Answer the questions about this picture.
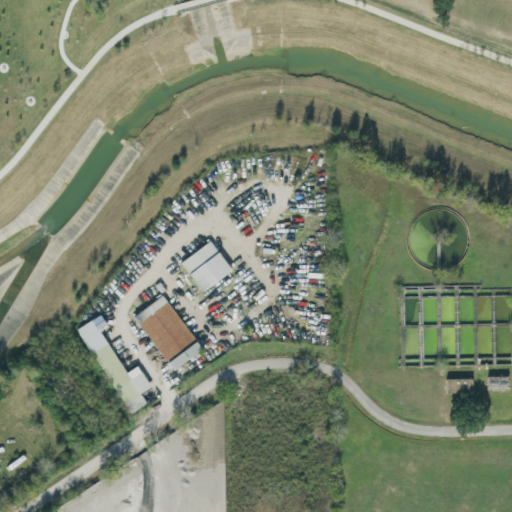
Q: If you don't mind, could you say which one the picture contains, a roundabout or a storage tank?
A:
storage tank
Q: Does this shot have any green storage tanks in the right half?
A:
Yes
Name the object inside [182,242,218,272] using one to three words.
building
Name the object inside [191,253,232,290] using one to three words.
building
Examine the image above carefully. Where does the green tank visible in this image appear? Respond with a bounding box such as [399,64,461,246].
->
[408,208,470,270]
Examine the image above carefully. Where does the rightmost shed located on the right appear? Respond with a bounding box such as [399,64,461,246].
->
[488,378,510,392]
